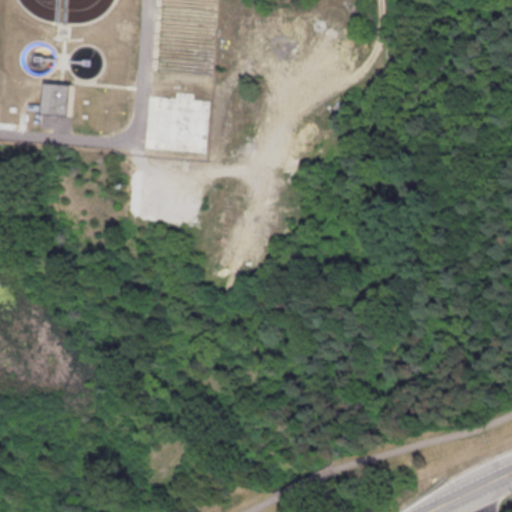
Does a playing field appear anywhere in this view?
No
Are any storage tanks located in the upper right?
No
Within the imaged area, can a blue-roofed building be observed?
No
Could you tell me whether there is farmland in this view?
No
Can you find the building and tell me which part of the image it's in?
top left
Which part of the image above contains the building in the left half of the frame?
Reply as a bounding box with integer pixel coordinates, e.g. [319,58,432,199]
[40,84,68,117]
